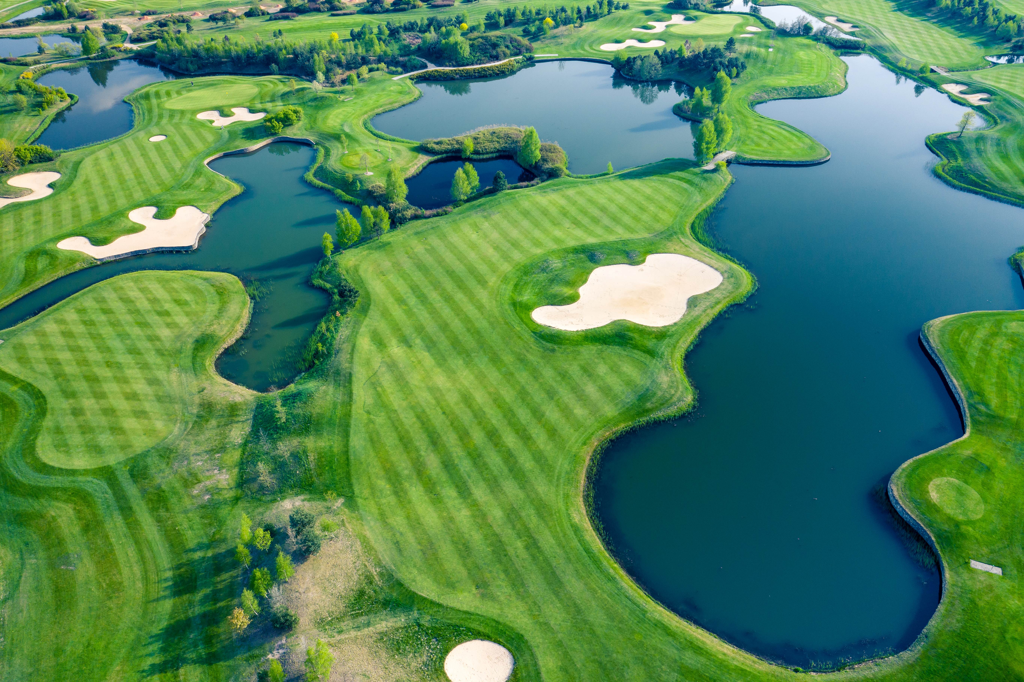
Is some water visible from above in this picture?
Yes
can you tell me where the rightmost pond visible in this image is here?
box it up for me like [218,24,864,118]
[718,0,858,39]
